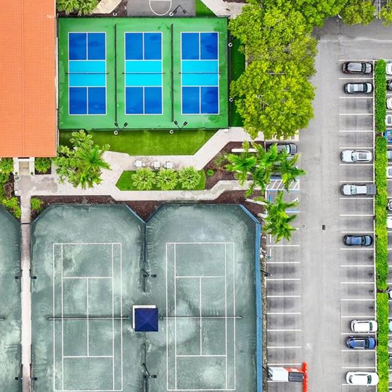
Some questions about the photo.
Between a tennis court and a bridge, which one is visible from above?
tennis court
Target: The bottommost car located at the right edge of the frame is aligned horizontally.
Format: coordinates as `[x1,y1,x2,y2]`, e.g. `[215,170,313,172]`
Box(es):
[345,372,378,388]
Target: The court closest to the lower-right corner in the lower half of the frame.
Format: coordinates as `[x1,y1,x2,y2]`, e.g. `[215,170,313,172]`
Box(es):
[144,206,257,392]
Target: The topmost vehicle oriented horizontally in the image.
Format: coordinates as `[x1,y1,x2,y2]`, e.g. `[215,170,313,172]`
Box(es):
[341,60,372,74]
